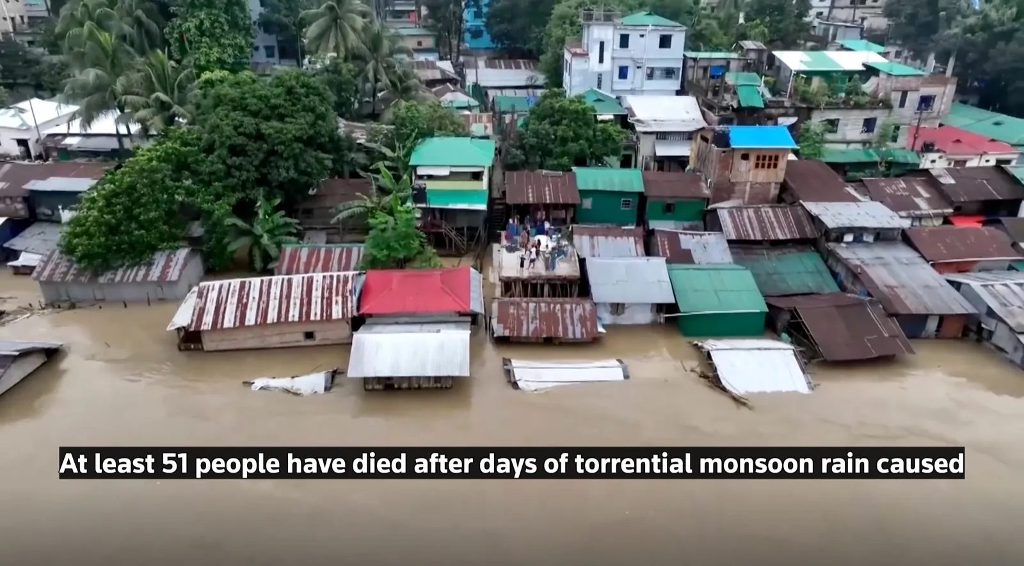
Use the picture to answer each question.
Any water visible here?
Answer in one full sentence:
Yes, water shows up in the scene.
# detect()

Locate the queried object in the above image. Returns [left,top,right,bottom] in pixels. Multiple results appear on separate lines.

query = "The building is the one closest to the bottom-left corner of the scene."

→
[0,335,62,387]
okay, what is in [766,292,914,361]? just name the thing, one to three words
building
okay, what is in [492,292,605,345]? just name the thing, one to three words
house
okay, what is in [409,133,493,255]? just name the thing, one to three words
house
